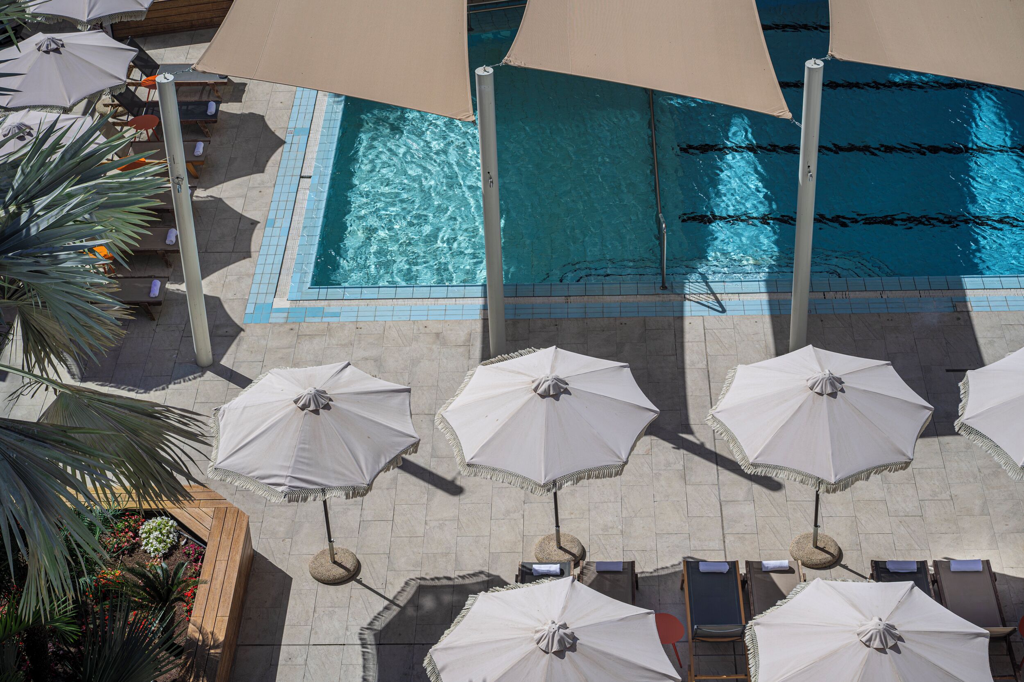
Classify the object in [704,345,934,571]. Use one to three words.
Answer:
umbrella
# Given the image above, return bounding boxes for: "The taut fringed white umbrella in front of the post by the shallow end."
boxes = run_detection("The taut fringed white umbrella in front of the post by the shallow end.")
[432,346,659,569]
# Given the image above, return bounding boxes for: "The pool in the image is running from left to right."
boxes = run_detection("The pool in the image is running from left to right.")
[243,4,1024,323]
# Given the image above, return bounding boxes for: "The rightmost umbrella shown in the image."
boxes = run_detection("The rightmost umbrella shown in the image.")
[950,351,1024,481]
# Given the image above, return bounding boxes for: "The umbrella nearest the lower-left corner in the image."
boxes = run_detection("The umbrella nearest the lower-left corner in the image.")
[206,362,420,587]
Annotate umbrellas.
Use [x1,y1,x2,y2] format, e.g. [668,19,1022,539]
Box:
[21,0,161,35]
[417,577,682,682]
[206,362,420,587]
[432,346,659,569]
[0,28,138,116]
[704,345,934,571]
[741,578,994,682]
[950,351,1024,481]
